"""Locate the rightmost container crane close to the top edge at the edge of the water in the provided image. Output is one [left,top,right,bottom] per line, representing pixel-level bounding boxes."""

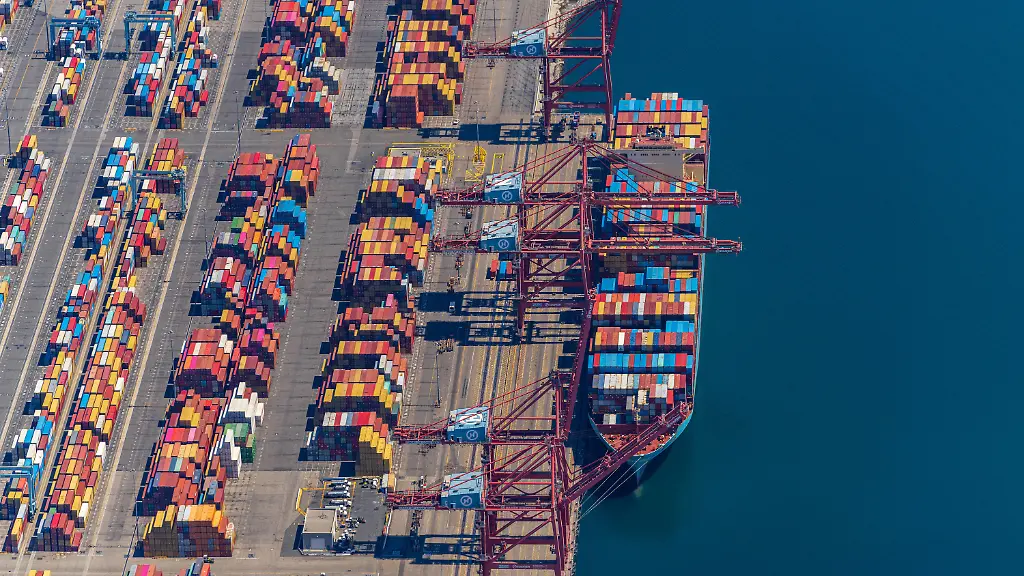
[465,0,621,153]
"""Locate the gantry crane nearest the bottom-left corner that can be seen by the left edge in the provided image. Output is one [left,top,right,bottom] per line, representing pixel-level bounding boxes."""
[0,463,39,521]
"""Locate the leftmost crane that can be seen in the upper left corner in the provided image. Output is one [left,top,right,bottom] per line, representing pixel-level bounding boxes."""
[45,11,103,61]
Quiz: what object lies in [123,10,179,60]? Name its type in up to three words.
container crane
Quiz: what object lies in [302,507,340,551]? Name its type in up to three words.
building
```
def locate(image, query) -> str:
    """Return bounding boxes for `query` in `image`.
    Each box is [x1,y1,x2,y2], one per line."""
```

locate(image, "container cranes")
[386,401,693,576]
[130,166,190,220]
[431,180,740,355]
[465,0,621,153]
[435,133,741,316]
[123,10,179,60]
[393,282,595,572]
[45,11,103,61]
[0,463,39,521]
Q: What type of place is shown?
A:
port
